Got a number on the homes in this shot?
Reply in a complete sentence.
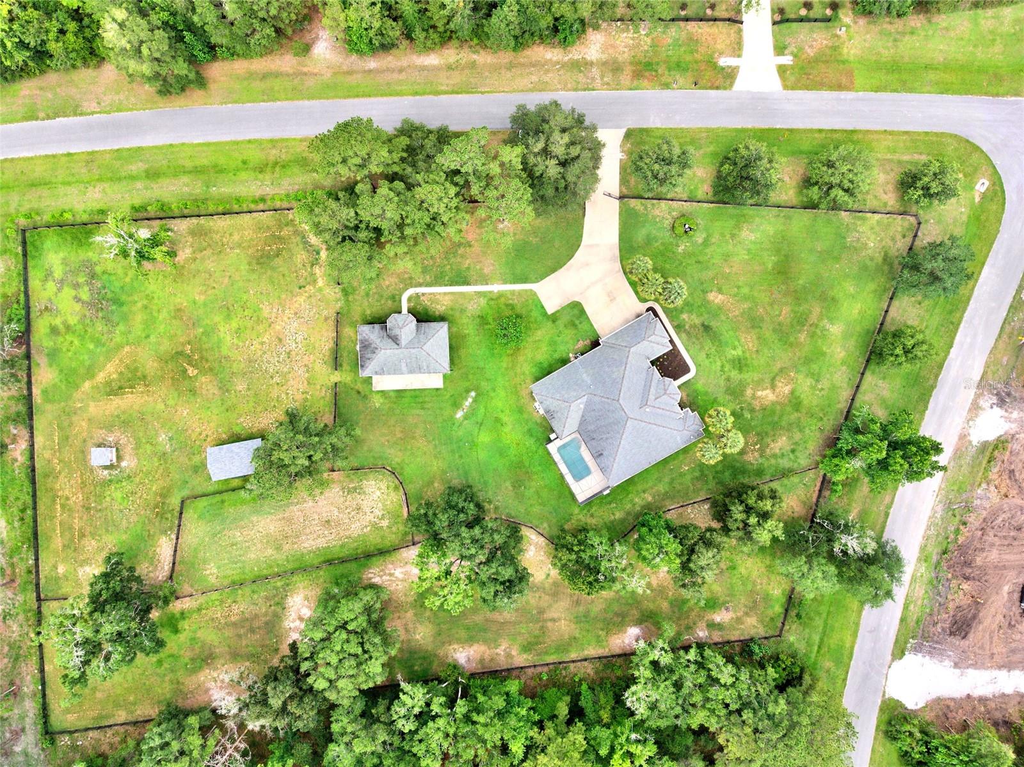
There are 2 homes in the image.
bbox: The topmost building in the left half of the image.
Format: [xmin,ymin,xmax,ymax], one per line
[355,313,450,390]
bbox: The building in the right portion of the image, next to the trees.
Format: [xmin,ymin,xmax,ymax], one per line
[529,311,706,488]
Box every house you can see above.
[529,311,706,488]
[355,313,450,390]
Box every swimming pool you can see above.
[548,431,608,503]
